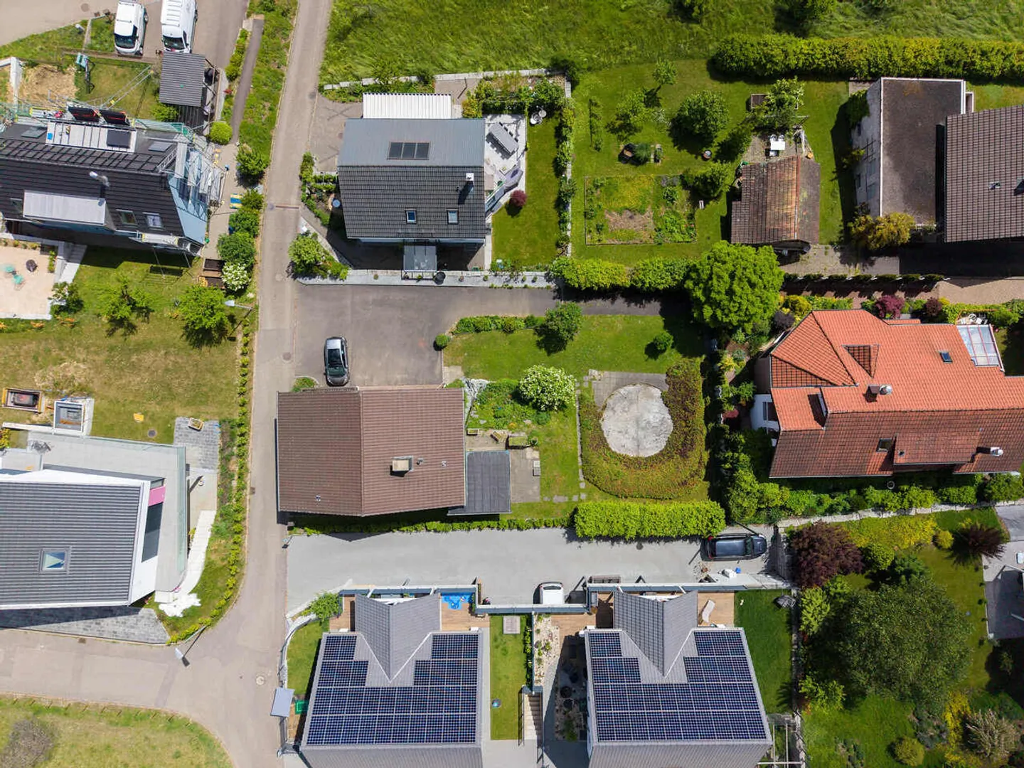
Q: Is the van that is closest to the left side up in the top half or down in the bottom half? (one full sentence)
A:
The van that is closest to the left side sits in the top half of the picture.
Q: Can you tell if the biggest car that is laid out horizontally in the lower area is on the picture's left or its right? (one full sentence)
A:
It is on the right.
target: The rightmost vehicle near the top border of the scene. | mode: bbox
[161,0,201,55]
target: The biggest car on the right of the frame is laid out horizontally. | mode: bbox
[701,533,767,564]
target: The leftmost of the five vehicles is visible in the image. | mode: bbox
[115,0,152,58]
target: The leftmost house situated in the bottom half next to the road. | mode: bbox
[0,465,165,614]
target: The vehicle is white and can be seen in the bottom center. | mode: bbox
[539,581,562,602]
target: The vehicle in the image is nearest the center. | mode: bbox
[321,335,350,387]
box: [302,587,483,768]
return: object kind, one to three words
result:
house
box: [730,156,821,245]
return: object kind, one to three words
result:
shed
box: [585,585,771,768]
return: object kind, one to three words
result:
house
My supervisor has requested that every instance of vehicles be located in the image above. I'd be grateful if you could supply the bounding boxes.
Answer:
[701,533,767,564]
[321,335,350,387]
[161,0,201,55]
[539,581,562,602]
[115,0,152,58]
